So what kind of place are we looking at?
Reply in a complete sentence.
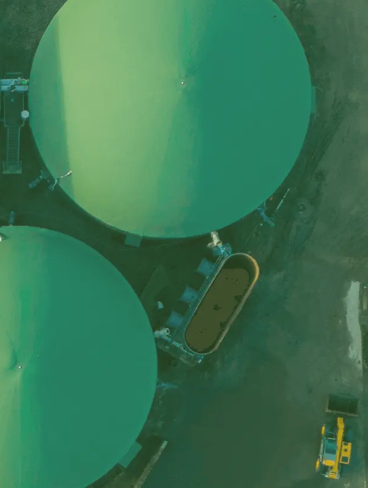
This looks like an industrial area.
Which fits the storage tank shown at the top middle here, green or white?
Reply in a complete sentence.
In this view, the storage tank shown at the top middle is green.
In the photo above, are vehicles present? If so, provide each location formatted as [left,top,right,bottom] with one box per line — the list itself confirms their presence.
[315,395,361,482]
